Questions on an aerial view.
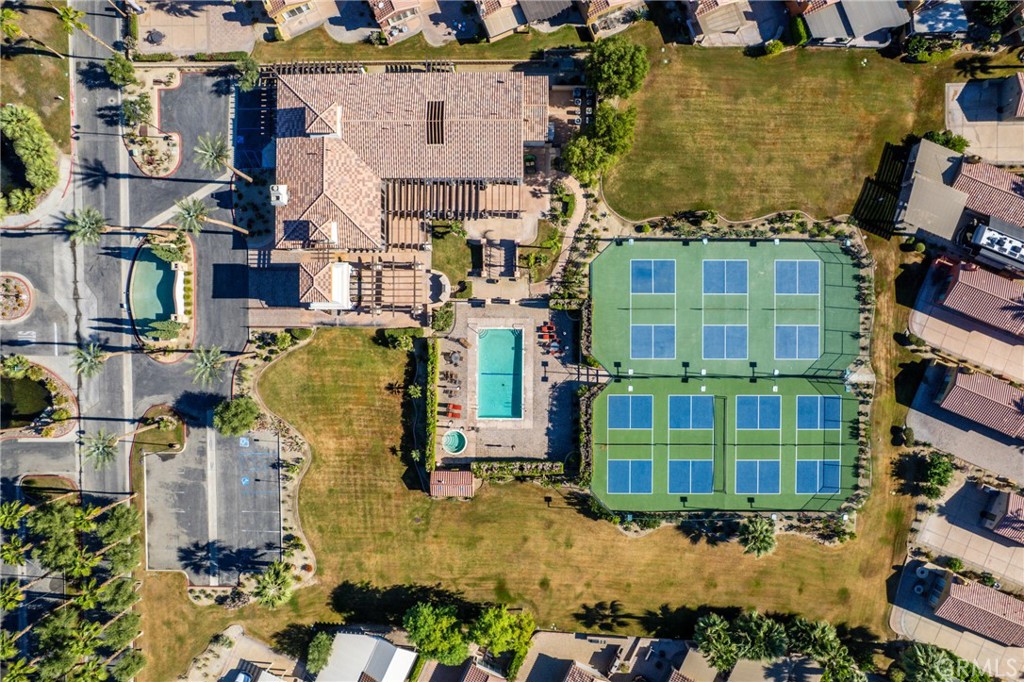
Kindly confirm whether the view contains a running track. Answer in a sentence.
No, the frame has no running track in it.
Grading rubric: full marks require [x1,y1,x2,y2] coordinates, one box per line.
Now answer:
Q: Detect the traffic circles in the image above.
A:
[0,271,35,325]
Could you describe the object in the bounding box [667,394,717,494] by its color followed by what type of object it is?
blue sports court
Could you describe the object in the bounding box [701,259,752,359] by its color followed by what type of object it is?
blue sports court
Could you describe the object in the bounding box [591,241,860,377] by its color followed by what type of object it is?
green sports court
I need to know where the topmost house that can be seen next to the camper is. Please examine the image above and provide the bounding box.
[946,136,1024,222]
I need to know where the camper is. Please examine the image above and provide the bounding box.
[960,222,1024,273]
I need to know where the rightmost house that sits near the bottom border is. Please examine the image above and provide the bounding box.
[926,563,1024,649]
